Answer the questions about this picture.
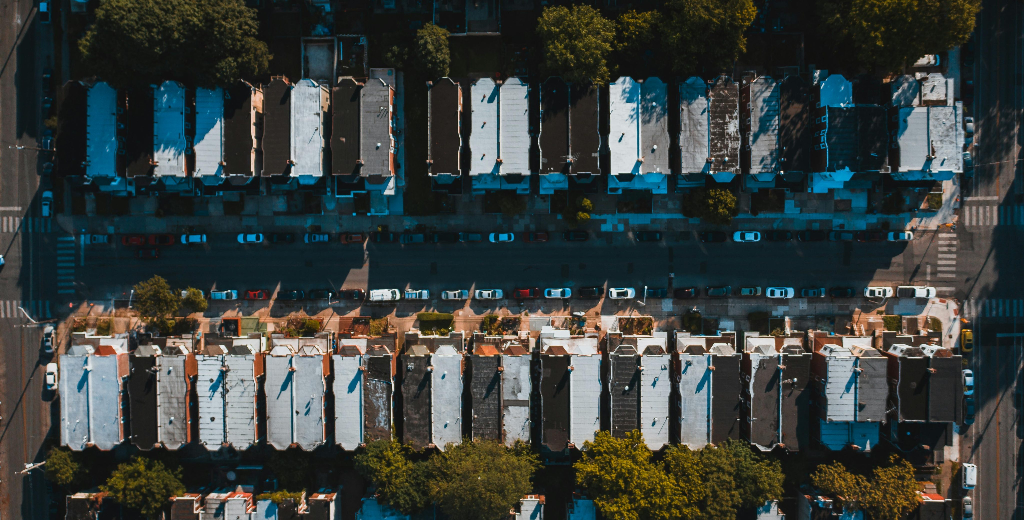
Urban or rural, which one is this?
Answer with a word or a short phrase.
urban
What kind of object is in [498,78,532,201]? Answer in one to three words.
house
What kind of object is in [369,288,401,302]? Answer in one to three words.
vehicle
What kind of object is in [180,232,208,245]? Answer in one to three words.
vehicle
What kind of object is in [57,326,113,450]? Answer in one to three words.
house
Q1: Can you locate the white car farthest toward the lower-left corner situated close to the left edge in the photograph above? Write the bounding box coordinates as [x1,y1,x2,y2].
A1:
[44,362,59,390]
